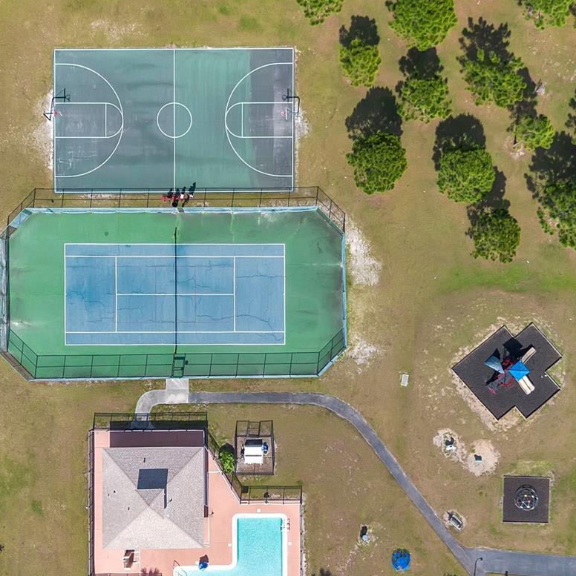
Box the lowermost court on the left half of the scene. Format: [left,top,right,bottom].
[8,210,343,377]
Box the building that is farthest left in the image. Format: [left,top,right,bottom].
[103,446,211,548]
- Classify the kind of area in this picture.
sports ground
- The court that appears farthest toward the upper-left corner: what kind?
basketball court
